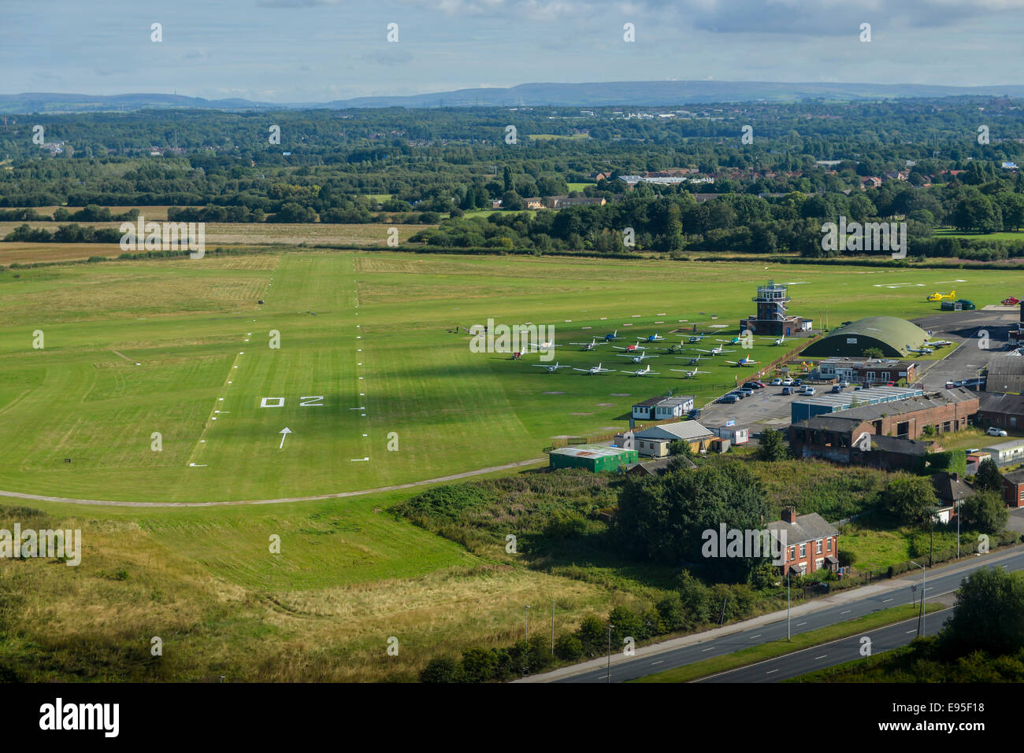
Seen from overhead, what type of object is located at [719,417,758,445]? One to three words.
building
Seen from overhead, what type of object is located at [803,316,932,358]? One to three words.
hangar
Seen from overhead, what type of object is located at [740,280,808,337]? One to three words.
building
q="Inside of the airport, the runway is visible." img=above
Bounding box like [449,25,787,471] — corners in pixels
[187,256,376,470]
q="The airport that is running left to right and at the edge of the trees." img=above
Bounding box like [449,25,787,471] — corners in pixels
[0,252,1024,507]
